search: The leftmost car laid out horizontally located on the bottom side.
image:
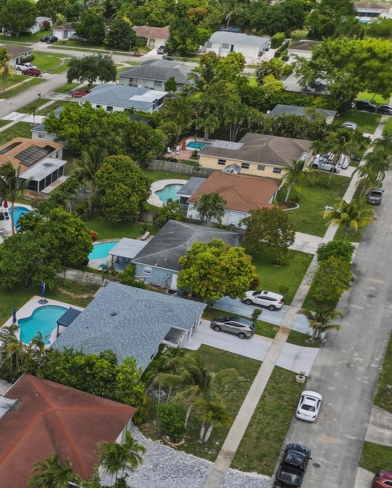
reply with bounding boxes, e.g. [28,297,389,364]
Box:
[208,316,258,342]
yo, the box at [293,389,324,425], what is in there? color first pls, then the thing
white car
